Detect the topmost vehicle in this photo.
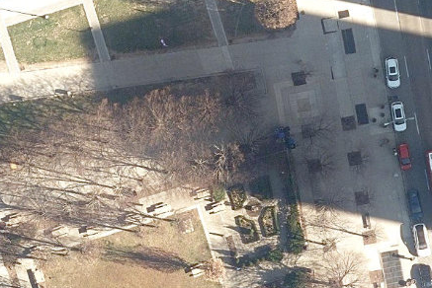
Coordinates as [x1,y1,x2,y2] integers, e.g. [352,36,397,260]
[385,57,402,89]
